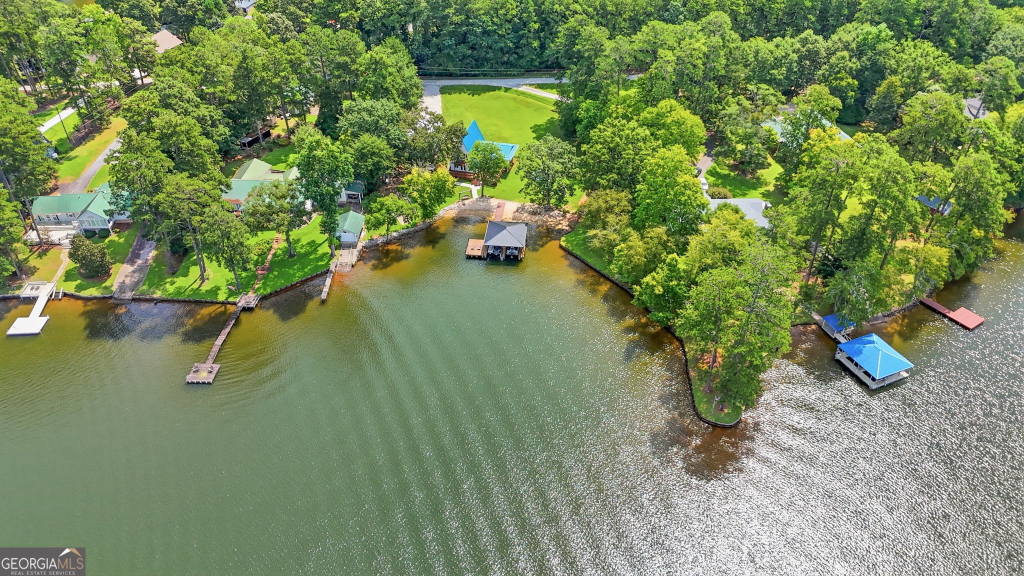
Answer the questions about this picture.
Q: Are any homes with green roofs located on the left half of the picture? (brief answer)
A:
Yes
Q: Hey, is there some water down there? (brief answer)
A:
Yes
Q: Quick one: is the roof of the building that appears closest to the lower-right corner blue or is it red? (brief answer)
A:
blue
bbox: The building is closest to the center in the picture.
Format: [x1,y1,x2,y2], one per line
[465,221,527,262]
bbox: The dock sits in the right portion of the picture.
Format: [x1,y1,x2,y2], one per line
[920,298,984,332]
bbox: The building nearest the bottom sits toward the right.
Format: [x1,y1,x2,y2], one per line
[833,333,917,390]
